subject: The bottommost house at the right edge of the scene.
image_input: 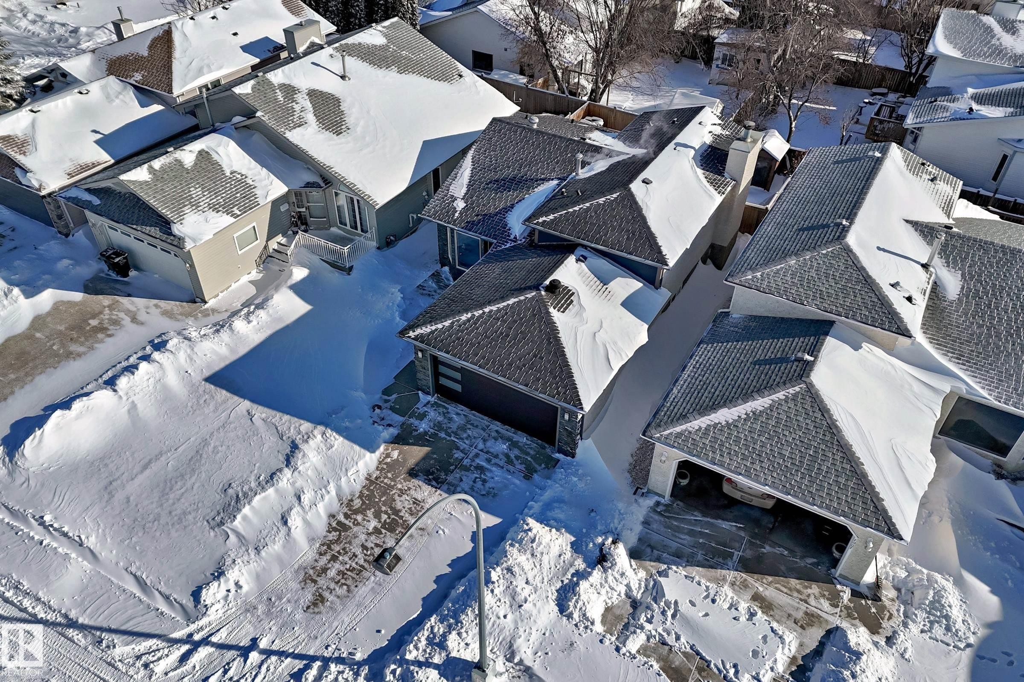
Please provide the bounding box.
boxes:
[636,141,1024,578]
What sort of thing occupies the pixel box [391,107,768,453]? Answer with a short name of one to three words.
house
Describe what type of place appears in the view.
residential area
